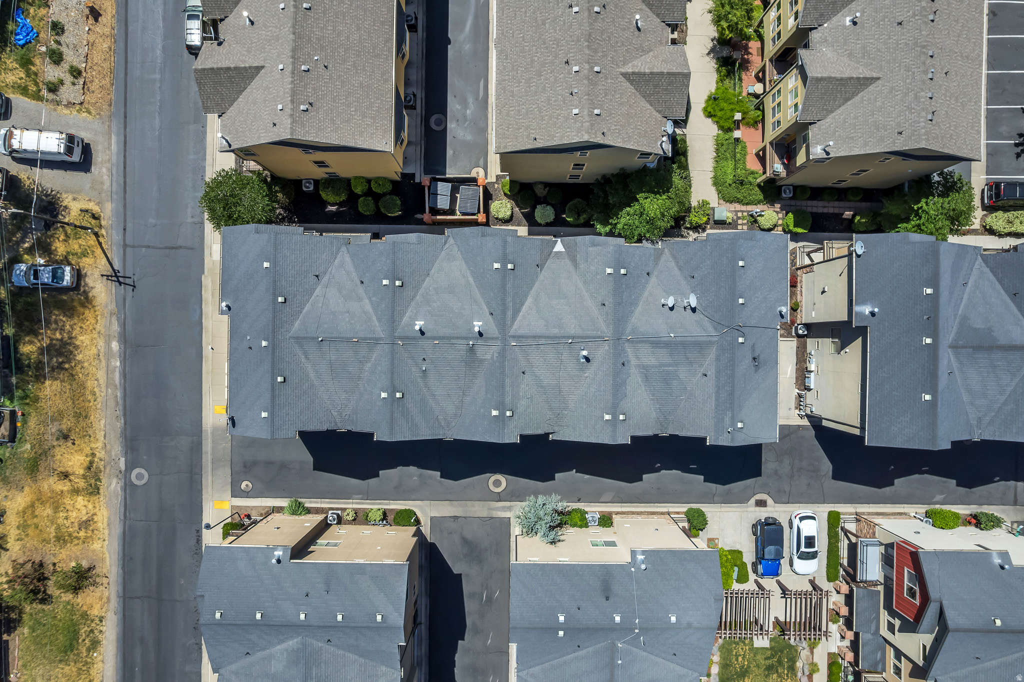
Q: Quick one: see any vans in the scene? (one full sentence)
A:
Yes, I can see a van in this picture.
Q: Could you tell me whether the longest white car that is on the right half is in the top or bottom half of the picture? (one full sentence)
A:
The bottom half of the photo is where the longest white car that is on the right half is.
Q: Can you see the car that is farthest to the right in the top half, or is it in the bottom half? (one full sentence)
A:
It is in the top half that the car that is farthest to the right appears.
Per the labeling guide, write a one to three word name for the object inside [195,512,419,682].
house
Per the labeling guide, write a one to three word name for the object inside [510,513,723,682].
house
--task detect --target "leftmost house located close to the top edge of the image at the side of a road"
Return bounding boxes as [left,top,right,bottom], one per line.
[194,0,410,180]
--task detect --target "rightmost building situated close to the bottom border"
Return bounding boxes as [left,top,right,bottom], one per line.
[840,514,1024,682]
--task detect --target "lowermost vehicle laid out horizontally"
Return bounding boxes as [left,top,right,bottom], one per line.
[15,258,80,289]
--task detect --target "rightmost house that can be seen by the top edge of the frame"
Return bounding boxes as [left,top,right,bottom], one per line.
[750,0,984,188]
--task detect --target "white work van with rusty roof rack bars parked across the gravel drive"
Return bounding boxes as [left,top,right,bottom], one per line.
[4,126,86,165]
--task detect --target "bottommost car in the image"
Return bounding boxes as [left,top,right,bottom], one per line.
[789,512,823,576]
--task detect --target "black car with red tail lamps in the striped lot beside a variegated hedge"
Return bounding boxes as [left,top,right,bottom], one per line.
[983,180,1024,209]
